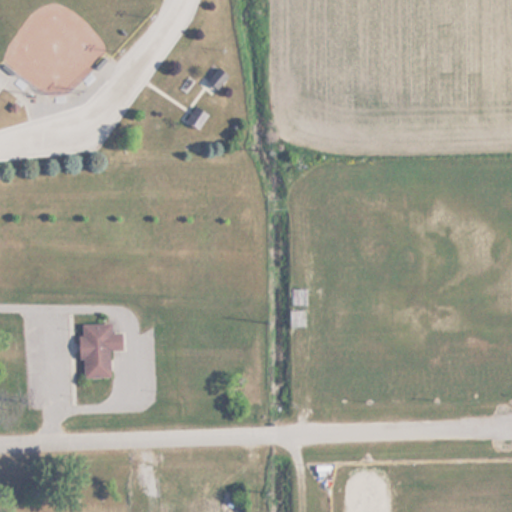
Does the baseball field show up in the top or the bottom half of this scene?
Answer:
top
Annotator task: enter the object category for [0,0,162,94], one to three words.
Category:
baseball field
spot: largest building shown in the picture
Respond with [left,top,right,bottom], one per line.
[80,325,124,380]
